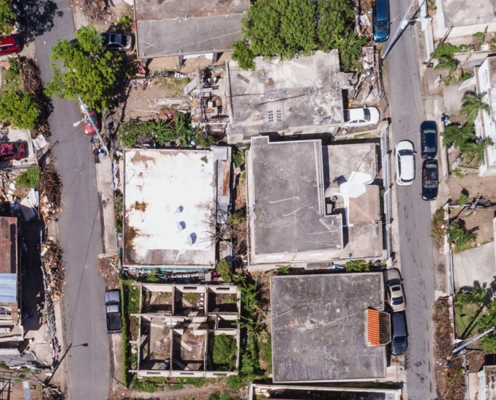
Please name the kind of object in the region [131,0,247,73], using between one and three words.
house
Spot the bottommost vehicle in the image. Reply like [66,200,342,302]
[387,313,411,355]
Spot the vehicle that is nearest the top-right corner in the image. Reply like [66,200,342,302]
[369,0,393,43]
